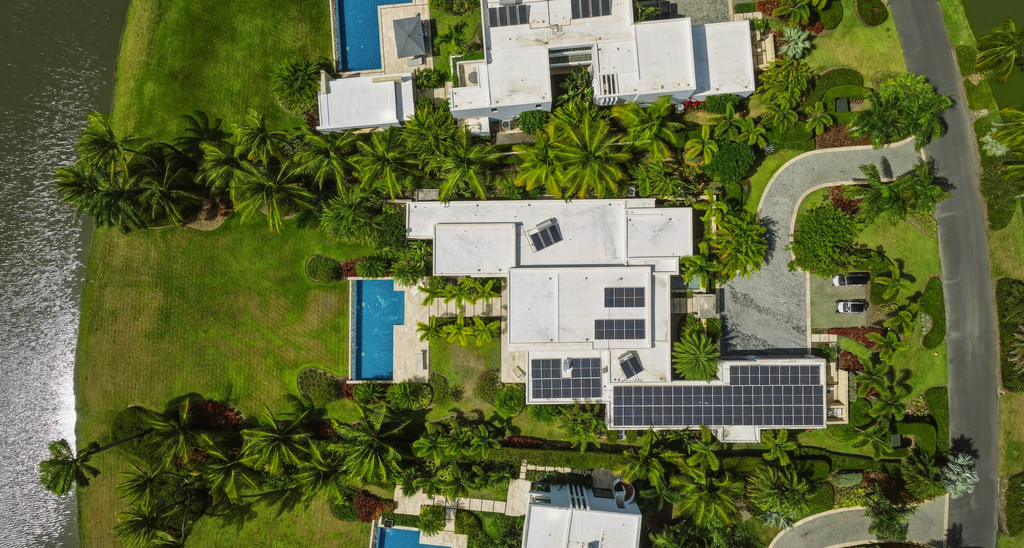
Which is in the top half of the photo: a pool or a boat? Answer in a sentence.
The one visible in the top half of the photo is a pool.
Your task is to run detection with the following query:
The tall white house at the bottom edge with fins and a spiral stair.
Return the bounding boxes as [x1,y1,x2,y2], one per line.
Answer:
[517,472,642,548]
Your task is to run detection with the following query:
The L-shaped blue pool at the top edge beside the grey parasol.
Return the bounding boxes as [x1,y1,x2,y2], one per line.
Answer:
[330,0,413,75]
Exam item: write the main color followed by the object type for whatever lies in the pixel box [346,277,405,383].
blue swimming pool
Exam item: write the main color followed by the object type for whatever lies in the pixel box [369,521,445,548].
blue swimming pool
